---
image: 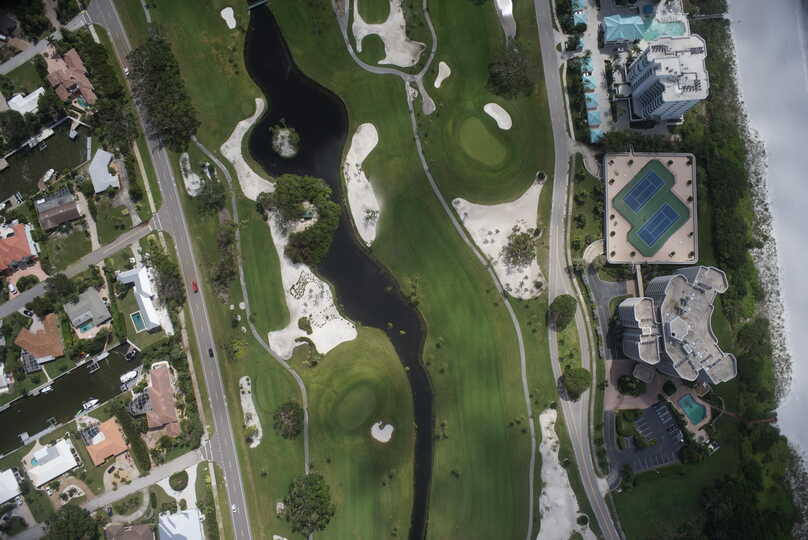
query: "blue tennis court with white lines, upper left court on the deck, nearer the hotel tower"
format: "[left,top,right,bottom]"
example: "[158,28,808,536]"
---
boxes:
[623,170,664,212]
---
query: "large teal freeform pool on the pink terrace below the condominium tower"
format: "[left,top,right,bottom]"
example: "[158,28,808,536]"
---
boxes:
[676,392,709,426]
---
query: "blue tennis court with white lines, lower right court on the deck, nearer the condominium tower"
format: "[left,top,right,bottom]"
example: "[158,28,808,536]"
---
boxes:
[638,204,678,246]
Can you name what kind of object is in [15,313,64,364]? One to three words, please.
house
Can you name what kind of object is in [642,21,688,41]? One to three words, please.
swimming pool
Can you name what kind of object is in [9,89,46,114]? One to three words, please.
house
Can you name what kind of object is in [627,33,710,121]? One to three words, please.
building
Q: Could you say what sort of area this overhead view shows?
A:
golf course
